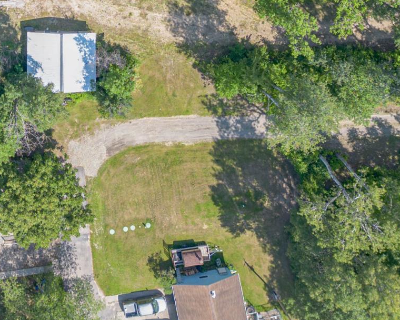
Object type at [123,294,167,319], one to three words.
truck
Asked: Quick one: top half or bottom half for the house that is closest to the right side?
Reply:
bottom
